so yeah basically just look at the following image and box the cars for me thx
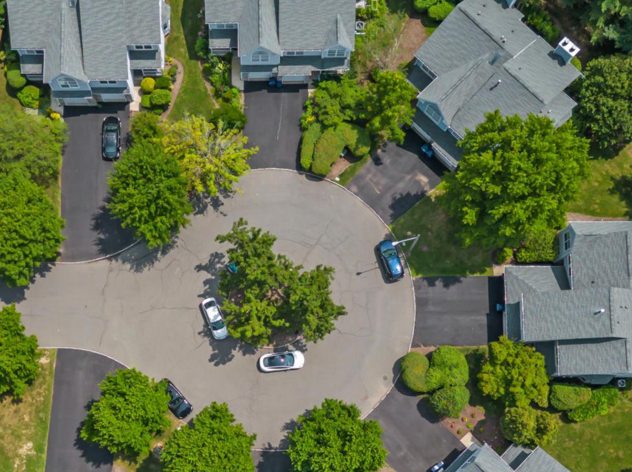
[101,117,120,159]
[160,377,196,419]
[259,351,305,372]
[377,241,405,281]
[200,296,227,340]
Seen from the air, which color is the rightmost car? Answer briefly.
blue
